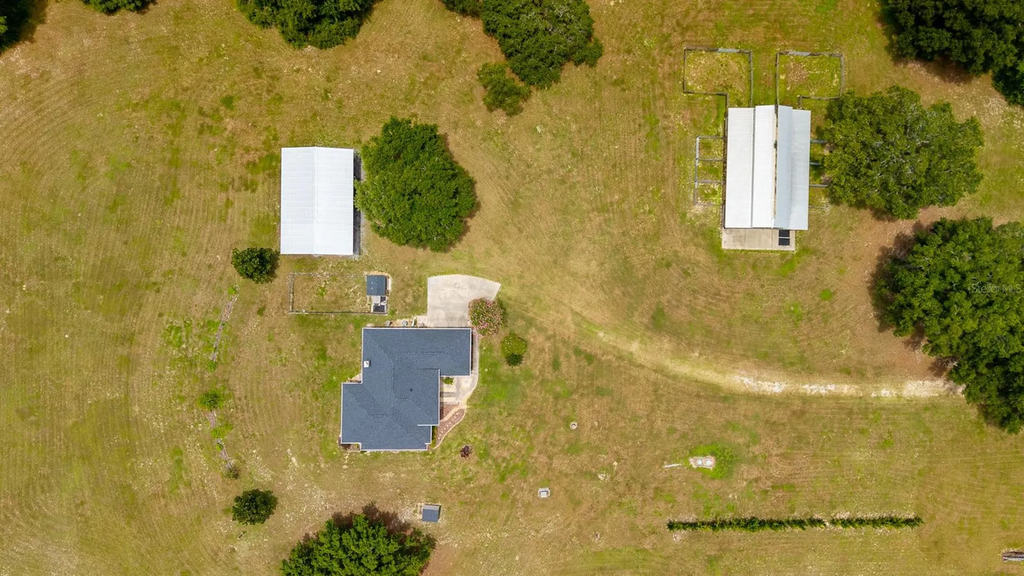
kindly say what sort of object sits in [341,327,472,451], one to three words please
house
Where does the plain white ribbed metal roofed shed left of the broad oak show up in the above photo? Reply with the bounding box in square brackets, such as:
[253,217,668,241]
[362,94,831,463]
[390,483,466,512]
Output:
[281,146,356,256]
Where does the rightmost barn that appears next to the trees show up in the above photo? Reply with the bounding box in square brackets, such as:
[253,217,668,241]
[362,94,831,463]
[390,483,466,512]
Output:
[721,103,811,231]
